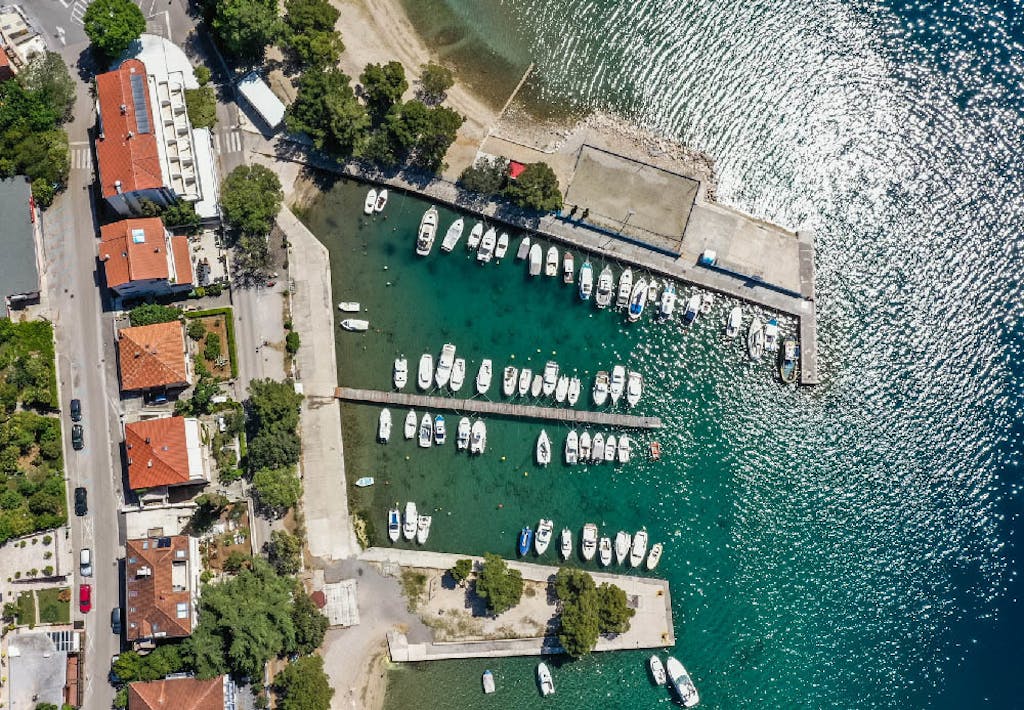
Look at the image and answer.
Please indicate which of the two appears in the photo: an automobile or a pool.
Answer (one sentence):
This aerial view contains an automobile.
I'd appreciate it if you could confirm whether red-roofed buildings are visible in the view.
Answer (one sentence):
Yes, there is a red-roofed building in the image.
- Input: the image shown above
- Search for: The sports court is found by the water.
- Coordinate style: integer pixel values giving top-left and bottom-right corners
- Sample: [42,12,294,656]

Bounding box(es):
[563,143,701,243]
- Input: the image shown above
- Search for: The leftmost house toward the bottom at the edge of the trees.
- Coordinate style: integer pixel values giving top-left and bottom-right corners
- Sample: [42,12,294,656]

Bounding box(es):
[8,619,86,710]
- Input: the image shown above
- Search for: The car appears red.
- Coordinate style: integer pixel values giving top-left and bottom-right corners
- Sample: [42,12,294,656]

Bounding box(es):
[79,584,94,611]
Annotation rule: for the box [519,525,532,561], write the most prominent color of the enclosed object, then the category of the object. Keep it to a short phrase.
blue boat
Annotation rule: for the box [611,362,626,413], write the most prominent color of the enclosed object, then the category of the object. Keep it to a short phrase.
white boat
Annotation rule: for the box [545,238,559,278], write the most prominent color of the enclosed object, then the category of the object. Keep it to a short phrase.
white boat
